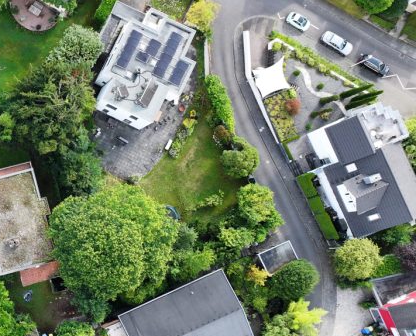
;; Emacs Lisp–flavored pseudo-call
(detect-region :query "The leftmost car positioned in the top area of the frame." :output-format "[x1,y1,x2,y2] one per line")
[284,12,312,33]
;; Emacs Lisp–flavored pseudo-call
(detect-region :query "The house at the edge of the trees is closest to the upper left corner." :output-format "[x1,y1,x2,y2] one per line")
[96,1,196,129]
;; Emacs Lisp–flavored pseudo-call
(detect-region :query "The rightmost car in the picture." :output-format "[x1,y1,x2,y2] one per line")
[356,53,391,78]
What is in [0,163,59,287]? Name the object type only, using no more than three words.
house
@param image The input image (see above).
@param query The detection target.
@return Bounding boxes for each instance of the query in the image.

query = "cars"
[356,53,391,78]
[284,12,312,33]
[317,29,355,55]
